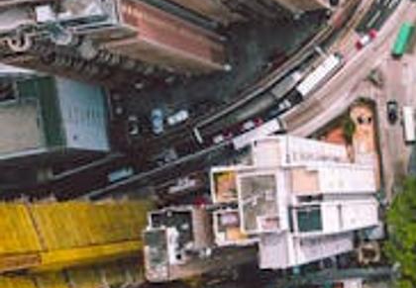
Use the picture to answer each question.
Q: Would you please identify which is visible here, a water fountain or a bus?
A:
bus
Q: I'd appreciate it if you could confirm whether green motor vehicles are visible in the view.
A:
Yes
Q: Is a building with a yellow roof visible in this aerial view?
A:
Yes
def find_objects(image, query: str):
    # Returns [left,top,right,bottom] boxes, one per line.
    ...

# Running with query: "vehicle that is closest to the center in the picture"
[213,129,236,145]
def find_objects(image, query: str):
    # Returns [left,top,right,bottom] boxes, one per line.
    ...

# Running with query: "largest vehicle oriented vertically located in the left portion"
[151,108,166,135]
